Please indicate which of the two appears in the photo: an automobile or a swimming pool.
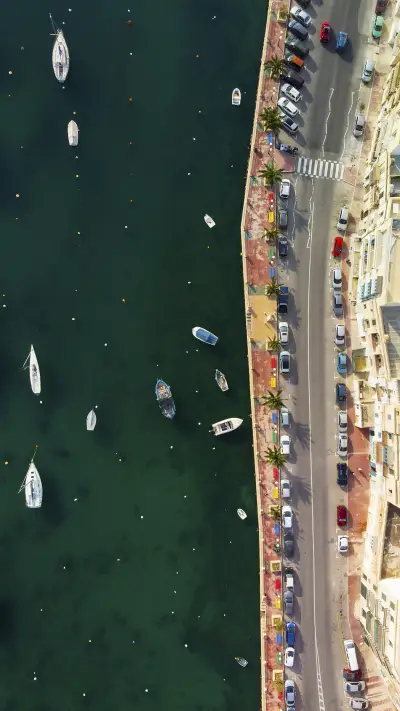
automobile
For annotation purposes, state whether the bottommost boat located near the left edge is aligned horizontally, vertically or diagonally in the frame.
vertically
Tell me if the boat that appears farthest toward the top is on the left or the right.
left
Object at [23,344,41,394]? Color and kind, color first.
white boat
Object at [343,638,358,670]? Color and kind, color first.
white vehicle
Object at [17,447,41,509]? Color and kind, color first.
white boat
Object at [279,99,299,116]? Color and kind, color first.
white car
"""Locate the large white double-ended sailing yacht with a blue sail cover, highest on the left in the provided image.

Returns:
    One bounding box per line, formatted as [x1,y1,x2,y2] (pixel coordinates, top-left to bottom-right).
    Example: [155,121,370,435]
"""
[49,16,69,84]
